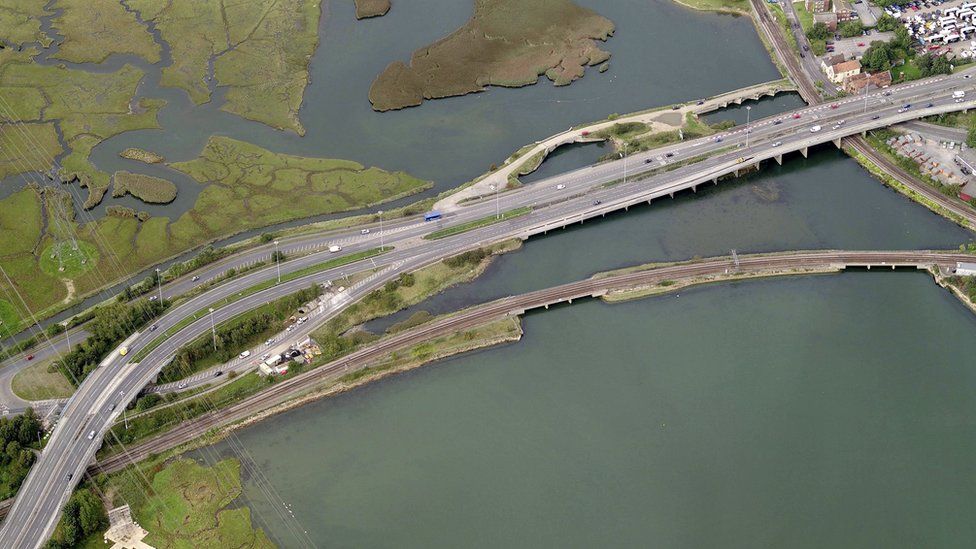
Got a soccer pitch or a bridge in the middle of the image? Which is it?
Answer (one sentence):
The one visible in the middle of the image is a bridge.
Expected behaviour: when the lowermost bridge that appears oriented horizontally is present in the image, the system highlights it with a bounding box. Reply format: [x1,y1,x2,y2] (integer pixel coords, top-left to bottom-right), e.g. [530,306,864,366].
[504,272,608,317]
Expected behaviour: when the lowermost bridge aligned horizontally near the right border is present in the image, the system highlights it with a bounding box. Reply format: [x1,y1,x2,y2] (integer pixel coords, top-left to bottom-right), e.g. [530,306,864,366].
[829,249,935,275]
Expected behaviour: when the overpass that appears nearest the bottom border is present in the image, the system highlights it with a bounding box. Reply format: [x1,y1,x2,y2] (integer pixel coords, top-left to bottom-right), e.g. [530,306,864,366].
[0,337,176,549]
